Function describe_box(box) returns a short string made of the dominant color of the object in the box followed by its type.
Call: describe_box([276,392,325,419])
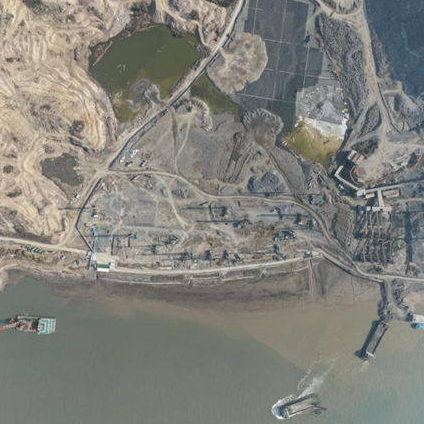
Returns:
gray ship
